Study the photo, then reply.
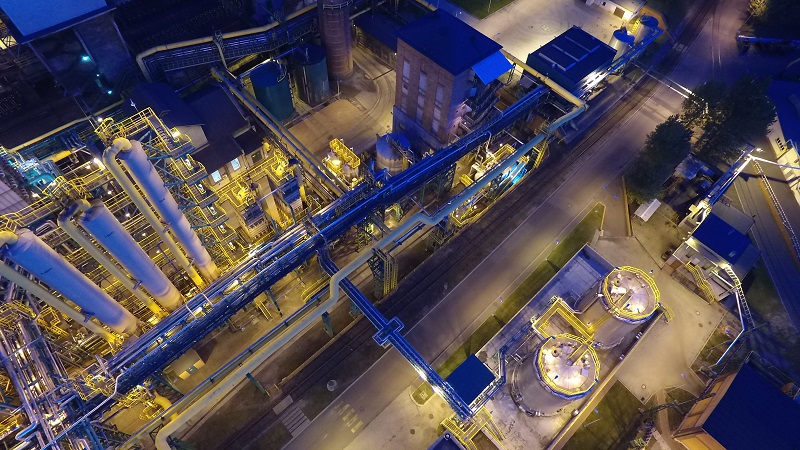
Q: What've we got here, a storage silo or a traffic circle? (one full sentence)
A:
There is a storage silo in the scene.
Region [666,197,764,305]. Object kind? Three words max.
building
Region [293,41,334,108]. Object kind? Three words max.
silo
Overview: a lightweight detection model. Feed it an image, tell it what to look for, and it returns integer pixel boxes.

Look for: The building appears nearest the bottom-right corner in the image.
[674,352,800,450]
